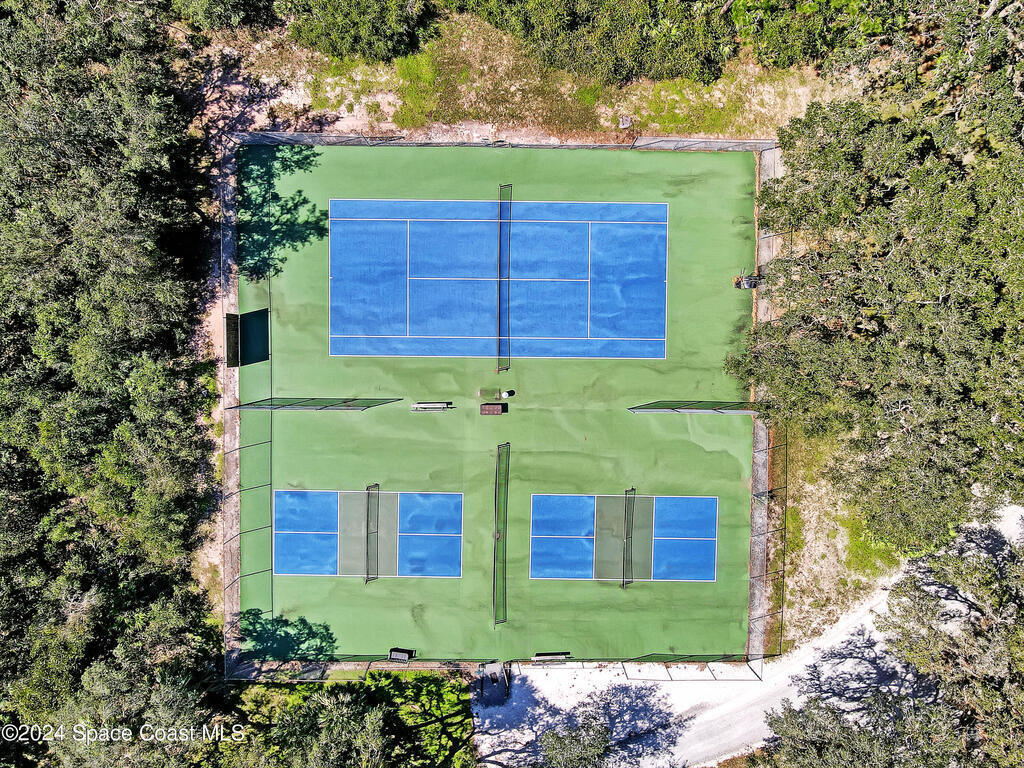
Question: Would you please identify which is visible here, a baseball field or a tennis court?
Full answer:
The image shows a tennis court.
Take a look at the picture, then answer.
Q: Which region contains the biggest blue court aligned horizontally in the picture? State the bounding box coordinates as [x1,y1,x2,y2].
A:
[329,199,668,359]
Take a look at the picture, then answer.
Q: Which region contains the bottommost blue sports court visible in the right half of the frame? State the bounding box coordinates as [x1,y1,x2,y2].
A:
[530,494,718,581]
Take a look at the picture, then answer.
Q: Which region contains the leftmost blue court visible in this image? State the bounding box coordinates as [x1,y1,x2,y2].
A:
[273,490,463,577]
